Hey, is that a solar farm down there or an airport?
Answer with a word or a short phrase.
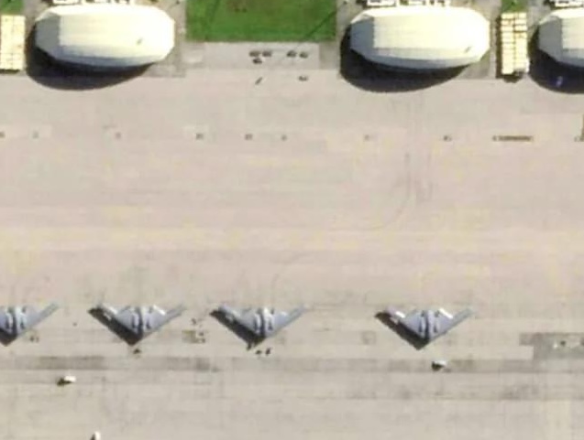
airport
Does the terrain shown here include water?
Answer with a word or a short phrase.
No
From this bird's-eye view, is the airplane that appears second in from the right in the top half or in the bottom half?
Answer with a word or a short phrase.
bottom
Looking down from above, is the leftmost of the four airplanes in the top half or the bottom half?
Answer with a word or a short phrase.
bottom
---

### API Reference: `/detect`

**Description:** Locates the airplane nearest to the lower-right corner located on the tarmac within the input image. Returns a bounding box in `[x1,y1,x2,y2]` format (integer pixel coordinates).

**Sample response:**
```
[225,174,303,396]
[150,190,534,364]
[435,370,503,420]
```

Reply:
[384,304,474,342]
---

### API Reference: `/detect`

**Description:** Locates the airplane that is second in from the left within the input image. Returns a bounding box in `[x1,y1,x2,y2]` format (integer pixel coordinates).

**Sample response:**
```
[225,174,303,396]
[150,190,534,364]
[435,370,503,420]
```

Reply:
[95,299,186,337]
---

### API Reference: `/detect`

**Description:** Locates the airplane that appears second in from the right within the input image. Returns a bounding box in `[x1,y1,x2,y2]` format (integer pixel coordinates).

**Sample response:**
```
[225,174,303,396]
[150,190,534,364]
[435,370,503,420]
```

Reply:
[218,300,307,337]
